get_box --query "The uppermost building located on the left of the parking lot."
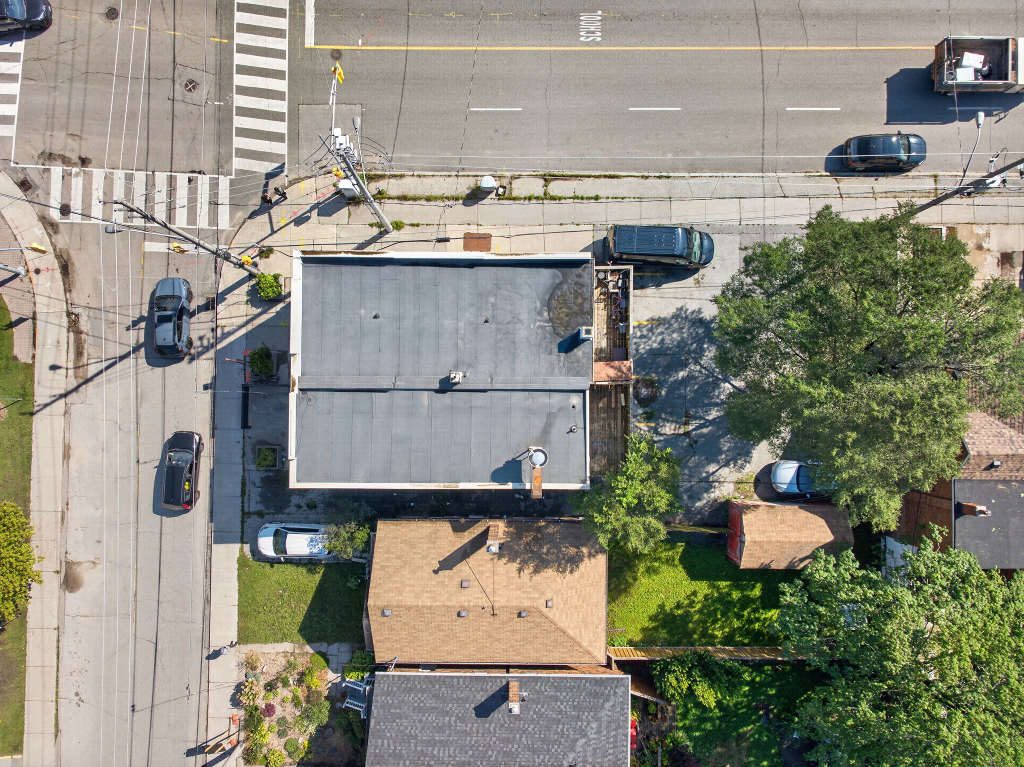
[289,251,594,489]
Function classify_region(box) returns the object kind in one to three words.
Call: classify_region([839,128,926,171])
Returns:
car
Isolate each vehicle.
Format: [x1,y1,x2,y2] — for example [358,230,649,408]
[157,430,202,512]
[148,278,194,359]
[601,228,712,271]
[768,458,849,496]
[257,523,341,563]
[923,36,1024,97]
[0,0,56,31]
[839,128,926,171]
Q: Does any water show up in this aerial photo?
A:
No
